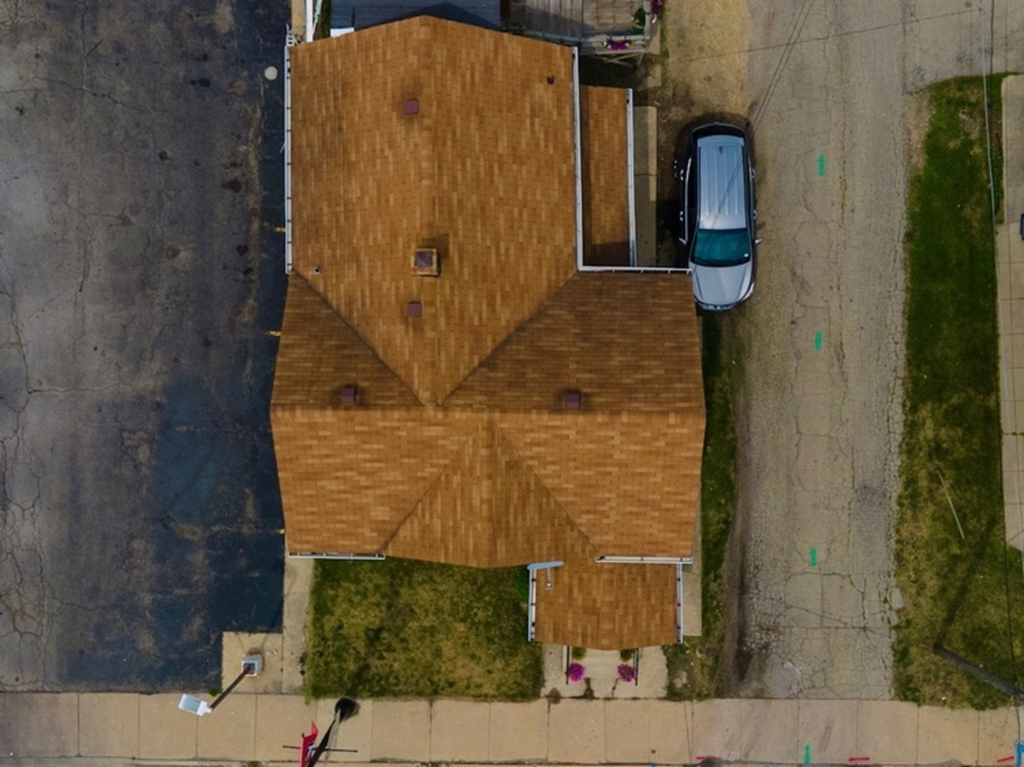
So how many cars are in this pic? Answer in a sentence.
The photo contains exactly 1 car.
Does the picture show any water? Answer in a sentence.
No, the picture contains no water.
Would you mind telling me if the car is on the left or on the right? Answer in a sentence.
You can find the car on the right side of the picture.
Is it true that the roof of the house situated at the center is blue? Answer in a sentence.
No, the roof of the house situated at the center is orange.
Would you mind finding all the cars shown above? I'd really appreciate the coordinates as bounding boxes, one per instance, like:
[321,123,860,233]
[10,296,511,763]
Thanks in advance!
[675,119,762,314]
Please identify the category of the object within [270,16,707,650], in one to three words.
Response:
house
